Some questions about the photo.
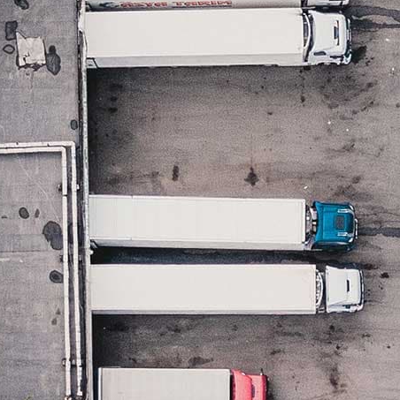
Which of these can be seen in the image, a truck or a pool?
truck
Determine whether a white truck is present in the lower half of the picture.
Yes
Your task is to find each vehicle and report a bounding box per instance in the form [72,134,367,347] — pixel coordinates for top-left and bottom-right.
[86,0,351,12]
[86,7,353,70]
[90,195,362,252]
[99,368,268,400]
[91,264,364,316]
